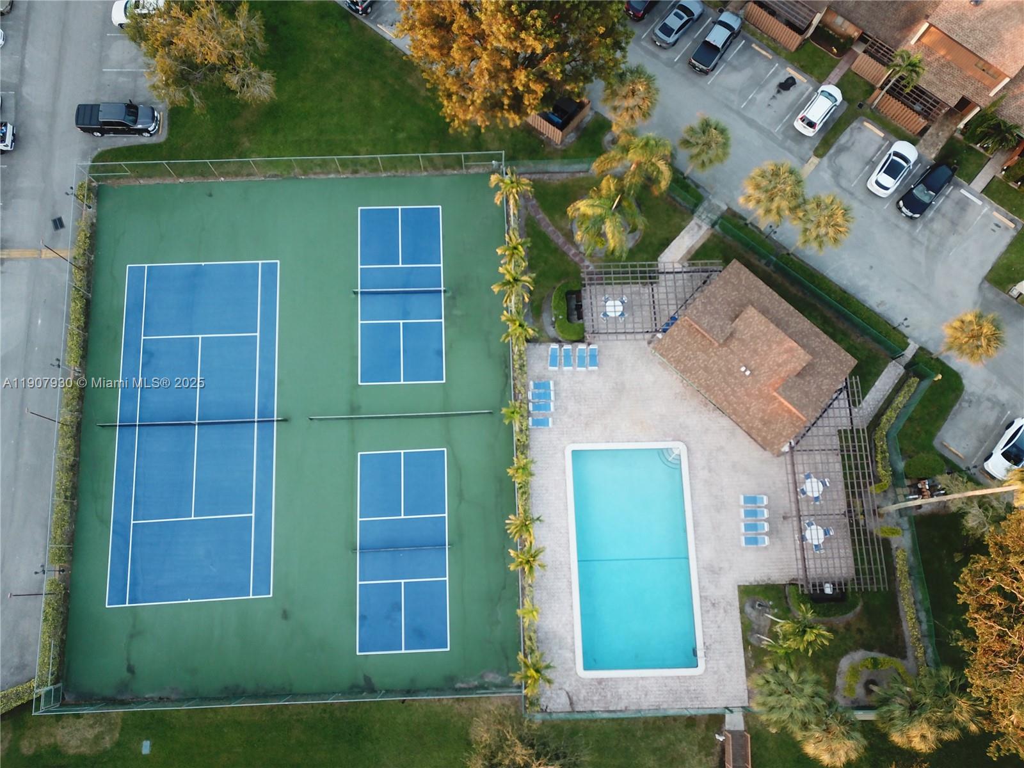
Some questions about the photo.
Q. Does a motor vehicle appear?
Yes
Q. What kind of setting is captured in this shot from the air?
sports ground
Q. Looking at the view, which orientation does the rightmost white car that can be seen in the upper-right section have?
diagonally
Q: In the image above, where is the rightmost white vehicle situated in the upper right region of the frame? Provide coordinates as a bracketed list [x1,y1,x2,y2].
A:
[868,142,918,200]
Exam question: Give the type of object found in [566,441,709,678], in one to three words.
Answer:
swimming pool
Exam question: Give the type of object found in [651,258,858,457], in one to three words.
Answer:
building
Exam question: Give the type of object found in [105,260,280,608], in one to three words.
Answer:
tennis court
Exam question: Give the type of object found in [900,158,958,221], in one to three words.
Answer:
car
